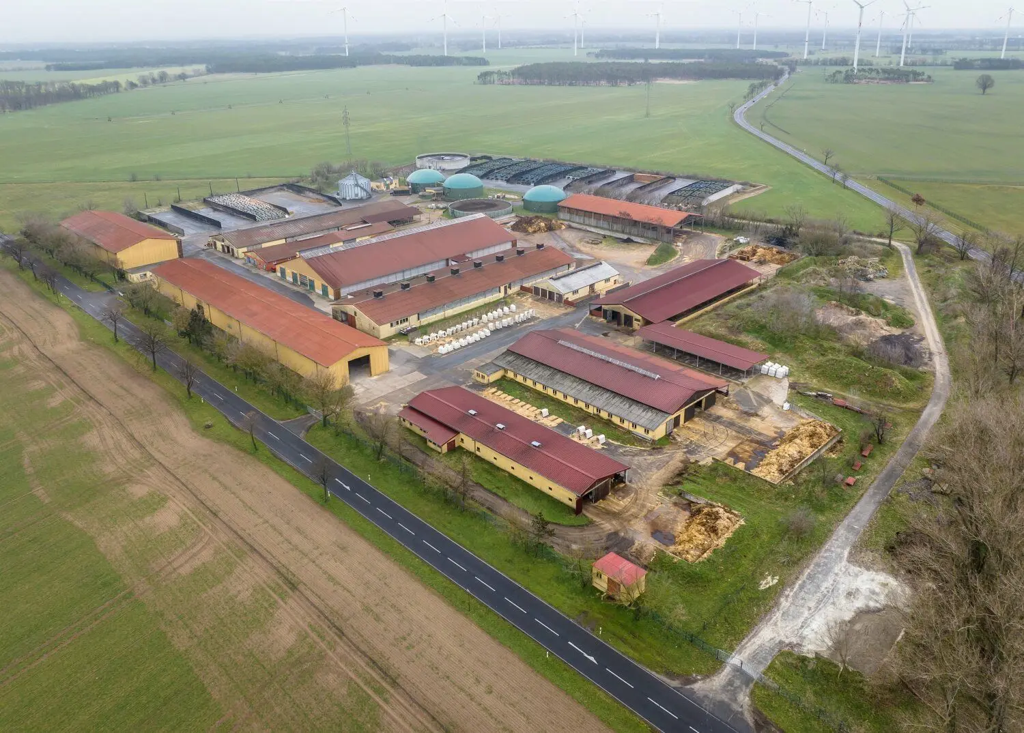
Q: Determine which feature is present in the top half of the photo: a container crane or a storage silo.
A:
storage silo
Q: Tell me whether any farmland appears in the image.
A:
Yes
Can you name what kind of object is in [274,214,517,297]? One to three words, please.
barn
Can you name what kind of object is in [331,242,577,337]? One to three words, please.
barn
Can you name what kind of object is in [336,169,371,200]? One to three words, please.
silo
